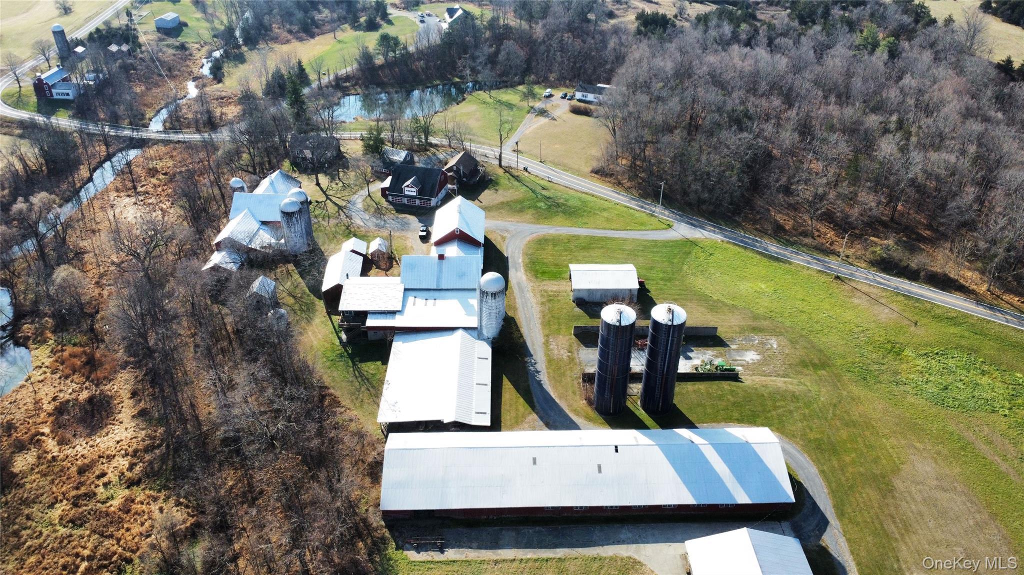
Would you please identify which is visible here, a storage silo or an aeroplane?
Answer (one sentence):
Visible in the photo is a storage silo.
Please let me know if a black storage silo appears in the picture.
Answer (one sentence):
Yes, the photo shows a black storage silo.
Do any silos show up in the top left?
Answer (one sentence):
Yes, a silo shows up in the top left.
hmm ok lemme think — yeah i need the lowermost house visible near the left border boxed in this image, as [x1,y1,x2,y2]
[30,64,81,100]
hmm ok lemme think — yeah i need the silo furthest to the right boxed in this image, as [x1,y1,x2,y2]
[639,299,688,416]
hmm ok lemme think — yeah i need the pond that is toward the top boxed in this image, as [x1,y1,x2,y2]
[325,80,512,126]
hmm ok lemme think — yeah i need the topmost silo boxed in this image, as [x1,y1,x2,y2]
[52,19,77,58]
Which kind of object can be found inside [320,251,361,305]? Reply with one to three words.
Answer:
shed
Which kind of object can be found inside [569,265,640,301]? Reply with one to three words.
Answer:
shed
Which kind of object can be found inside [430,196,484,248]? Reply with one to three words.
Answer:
barn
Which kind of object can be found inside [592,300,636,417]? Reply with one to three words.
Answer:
silo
